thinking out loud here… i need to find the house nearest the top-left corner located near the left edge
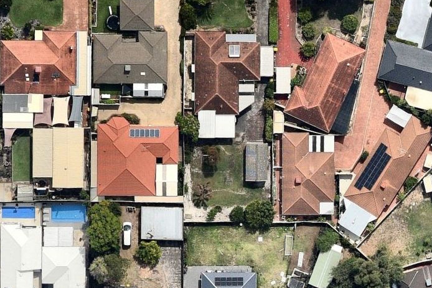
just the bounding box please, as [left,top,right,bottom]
[0,30,91,96]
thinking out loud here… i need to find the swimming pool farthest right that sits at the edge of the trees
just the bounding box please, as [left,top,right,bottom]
[50,204,88,223]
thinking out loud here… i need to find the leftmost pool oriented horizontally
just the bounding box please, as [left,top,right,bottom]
[0,205,36,219]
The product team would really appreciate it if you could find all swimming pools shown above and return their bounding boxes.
[50,204,88,223]
[0,205,36,219]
